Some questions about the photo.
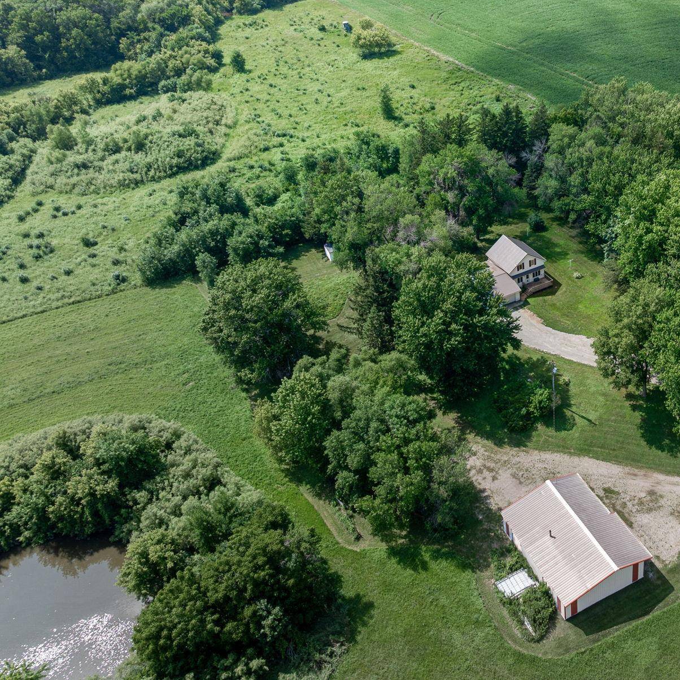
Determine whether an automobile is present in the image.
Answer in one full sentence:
No, there appears to be no automobile in this shot.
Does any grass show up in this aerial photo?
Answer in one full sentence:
Yes, grass shows up in the scene.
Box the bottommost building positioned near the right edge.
[499,473,653,621]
